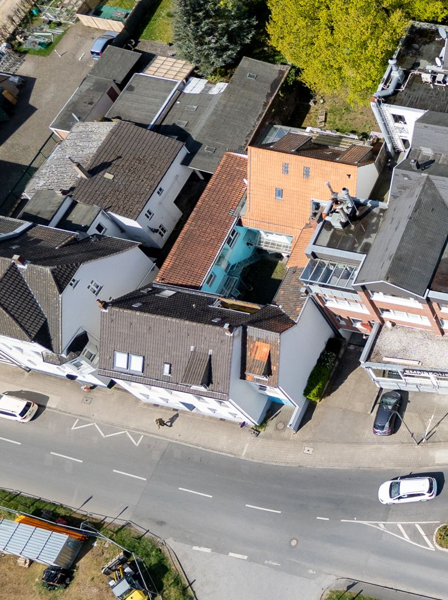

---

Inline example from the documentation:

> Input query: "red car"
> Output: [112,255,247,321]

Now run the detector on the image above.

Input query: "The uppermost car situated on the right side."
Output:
[373,389,404,439]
